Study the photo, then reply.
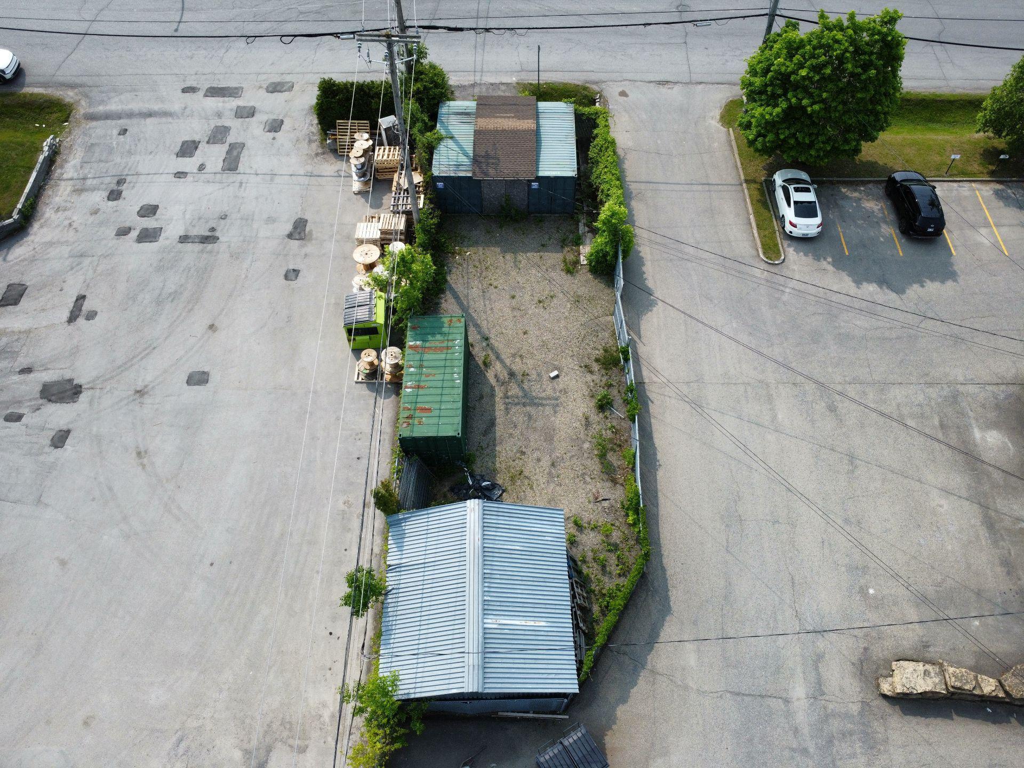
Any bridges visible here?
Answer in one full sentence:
No, the photo shows no bridge.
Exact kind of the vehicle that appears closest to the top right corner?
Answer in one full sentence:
Looking closely, the vehicle that appears closest to the top right corner is an automobile.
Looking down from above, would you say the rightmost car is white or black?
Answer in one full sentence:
The color of the rightmost car is black.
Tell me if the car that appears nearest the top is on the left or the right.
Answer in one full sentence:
You can find the car that appears nearest the top on the left side of the picture.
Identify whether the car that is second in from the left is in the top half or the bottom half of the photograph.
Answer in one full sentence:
It is in the top half that the car that is second in from the left appears.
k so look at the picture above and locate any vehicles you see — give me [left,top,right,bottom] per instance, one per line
[0,43,26,79]
[772,168,822,234]
[886,167,948,236]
